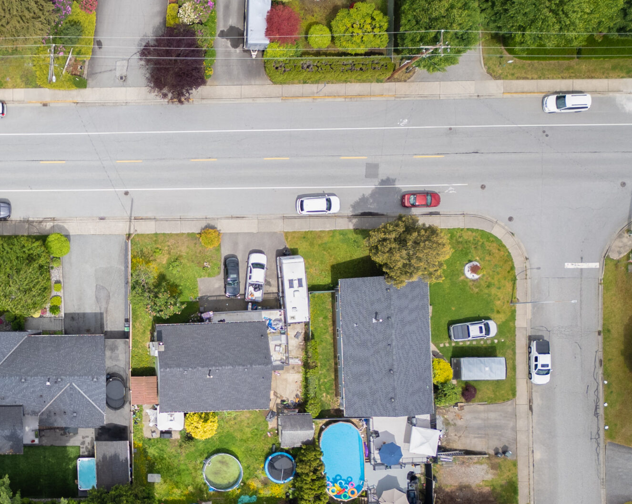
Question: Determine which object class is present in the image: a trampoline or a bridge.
trampoline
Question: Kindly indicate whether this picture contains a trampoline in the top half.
No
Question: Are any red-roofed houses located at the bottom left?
No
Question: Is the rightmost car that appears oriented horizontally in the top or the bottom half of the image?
top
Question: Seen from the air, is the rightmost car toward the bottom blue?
No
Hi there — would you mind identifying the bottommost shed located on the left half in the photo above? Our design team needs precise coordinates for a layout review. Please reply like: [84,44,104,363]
[94,440,130,492]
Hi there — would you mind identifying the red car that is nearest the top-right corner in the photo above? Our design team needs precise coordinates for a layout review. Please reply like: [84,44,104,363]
[399,191,440,209]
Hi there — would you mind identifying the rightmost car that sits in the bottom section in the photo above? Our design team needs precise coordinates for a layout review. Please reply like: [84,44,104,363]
[527,340,552,384]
